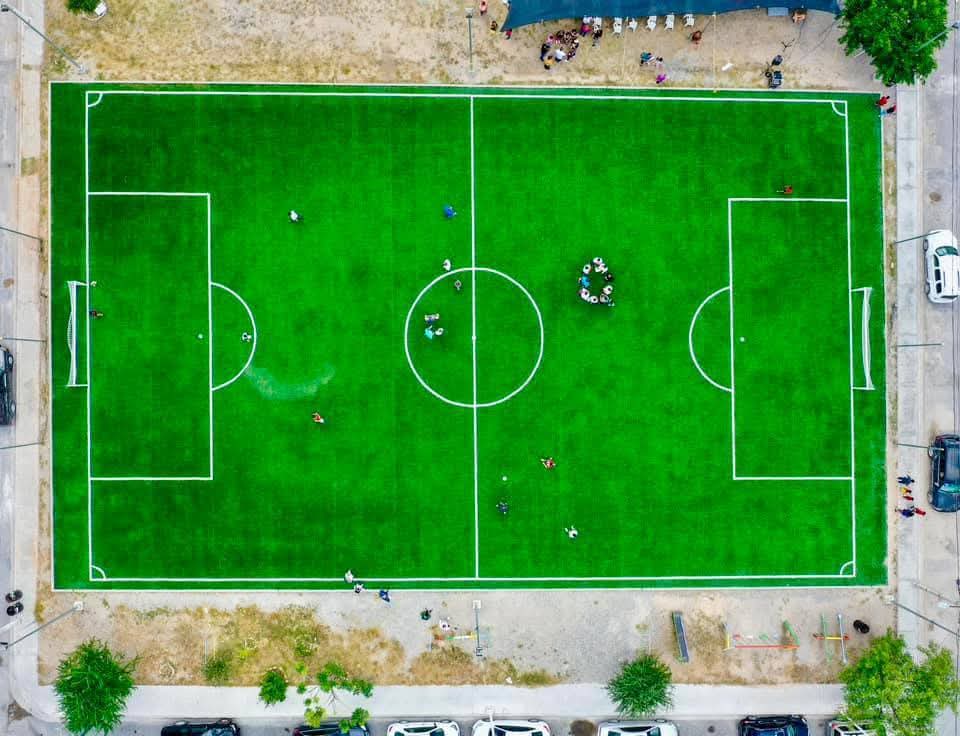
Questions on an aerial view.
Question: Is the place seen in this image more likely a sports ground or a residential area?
sports ground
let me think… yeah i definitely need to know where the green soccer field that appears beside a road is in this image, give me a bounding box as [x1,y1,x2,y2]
[49,82,888,592]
